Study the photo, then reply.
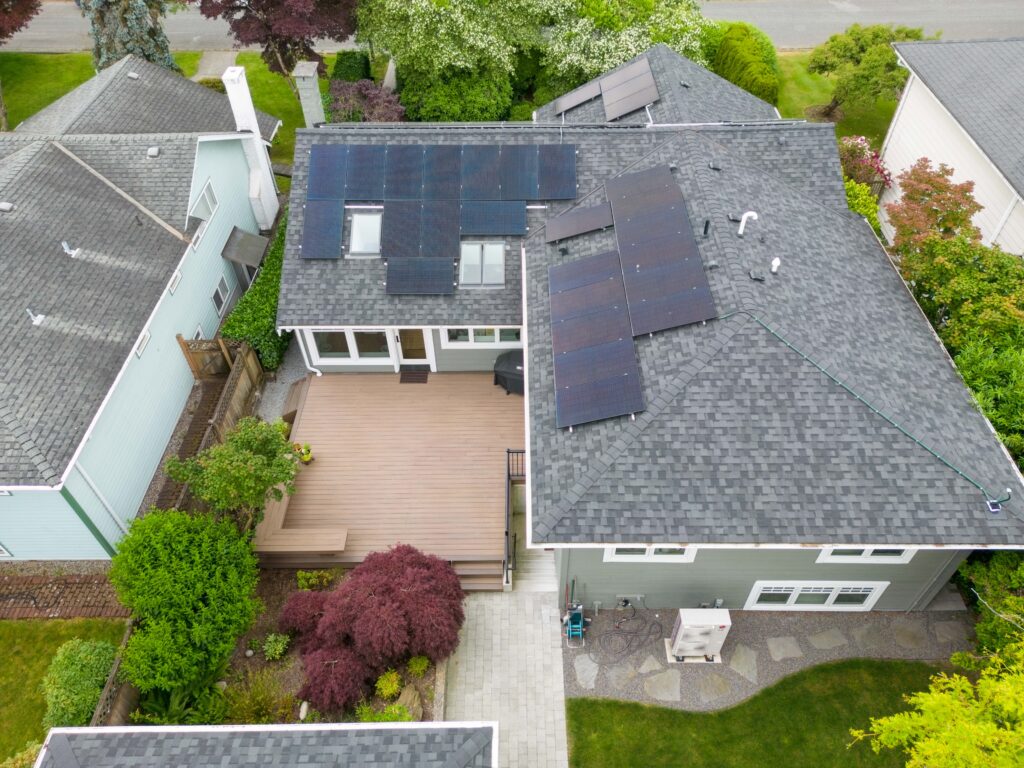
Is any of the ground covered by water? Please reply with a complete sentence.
No, there is no water in the image.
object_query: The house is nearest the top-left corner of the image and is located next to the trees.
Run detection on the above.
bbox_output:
[0,53,290,559]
